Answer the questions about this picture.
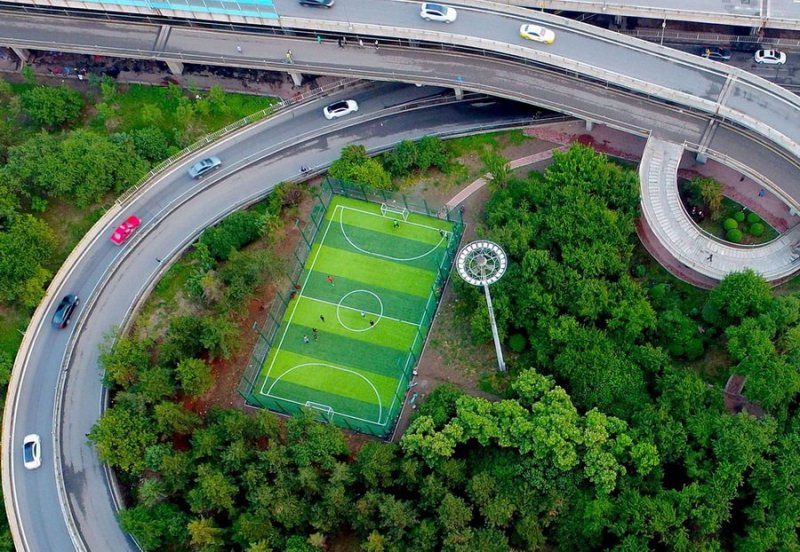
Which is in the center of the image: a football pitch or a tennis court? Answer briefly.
football pitch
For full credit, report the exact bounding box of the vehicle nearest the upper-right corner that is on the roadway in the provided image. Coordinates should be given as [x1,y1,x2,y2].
[755,49,786,66]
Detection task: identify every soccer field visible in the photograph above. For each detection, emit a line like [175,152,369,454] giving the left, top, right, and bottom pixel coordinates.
[245,191,466,443]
